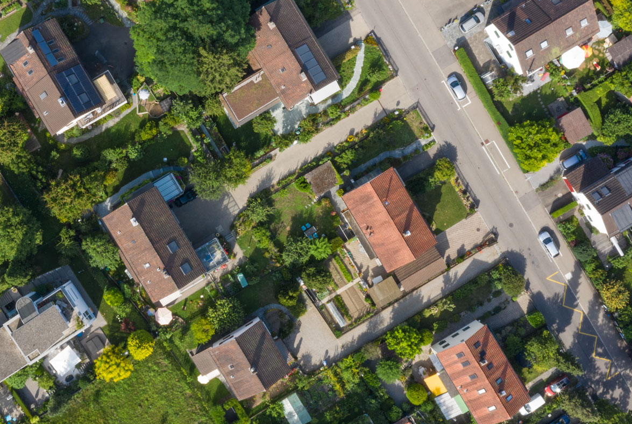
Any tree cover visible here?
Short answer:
Yes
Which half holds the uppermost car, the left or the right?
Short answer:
right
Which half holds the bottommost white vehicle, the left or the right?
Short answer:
right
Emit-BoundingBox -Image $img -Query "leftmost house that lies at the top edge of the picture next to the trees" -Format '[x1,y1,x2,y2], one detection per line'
[0,21,127,135]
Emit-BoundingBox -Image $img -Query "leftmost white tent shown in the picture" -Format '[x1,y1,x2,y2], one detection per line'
[49,342,82,377]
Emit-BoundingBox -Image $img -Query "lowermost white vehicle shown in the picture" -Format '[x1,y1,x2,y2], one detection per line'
[517,393,551,418]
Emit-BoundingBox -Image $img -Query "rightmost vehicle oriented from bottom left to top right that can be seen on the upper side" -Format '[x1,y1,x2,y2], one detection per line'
[559,147,587,171]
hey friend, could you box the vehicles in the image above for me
[535,229,562,259]
[559,147,587,171]
[169,186,198,210]
[443,73,468,103]
[543,375,574,398]
[546,414,572,424]
[457,9,485,31]
[517,393,551,418]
